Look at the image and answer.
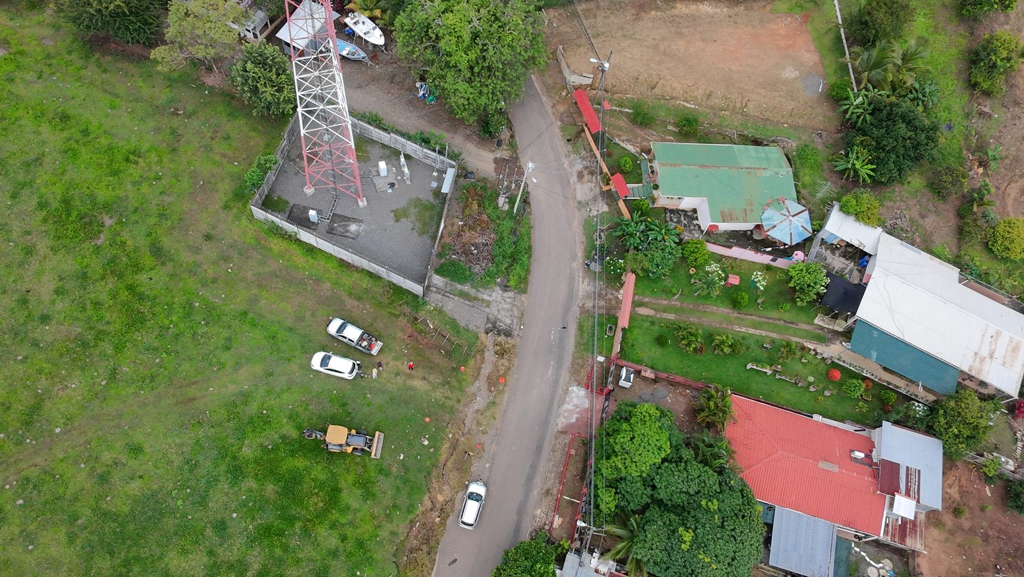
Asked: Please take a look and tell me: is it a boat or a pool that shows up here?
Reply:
boat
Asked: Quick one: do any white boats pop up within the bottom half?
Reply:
No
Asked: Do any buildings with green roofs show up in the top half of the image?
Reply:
Yes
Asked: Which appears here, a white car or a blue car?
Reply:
white car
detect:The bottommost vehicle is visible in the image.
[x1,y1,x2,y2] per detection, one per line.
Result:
[458,482,487,530]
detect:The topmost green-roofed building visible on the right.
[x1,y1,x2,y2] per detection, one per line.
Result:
[651,142,797,232]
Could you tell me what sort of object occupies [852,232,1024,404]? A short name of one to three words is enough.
house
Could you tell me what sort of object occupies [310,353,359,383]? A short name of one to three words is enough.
car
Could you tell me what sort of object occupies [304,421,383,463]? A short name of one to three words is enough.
work vehicle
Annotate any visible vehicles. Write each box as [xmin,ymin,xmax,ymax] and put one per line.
[304,421,383,463]
[326,319,385,358]
[310,353,359,383]
[458,482,487,530]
